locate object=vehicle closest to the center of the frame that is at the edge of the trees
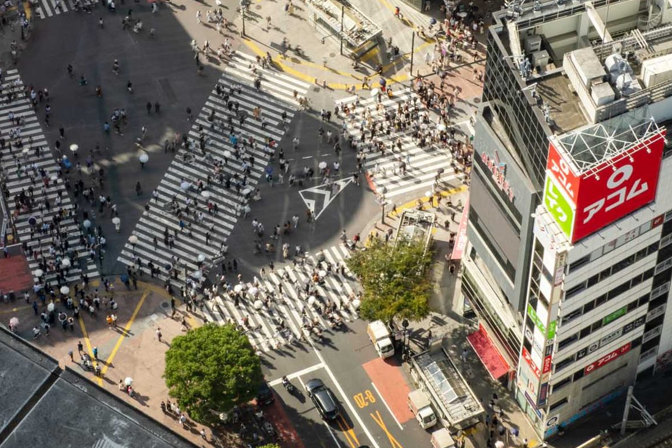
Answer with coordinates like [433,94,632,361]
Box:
[370,315,397,353]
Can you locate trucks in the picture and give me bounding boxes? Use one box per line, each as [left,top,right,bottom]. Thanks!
[409,384,441,423]
[434,423,458,448]
[370,315,397,353]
